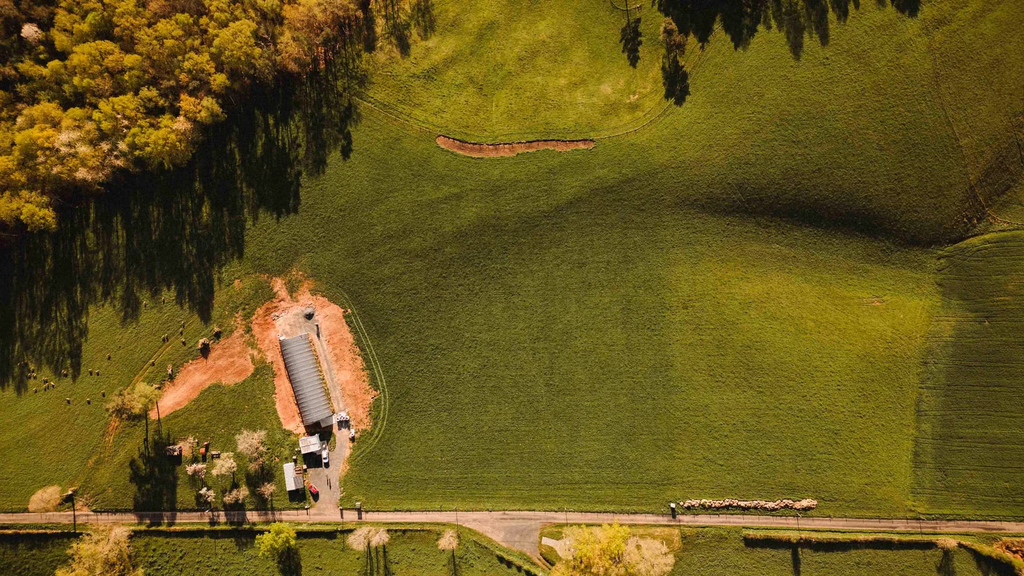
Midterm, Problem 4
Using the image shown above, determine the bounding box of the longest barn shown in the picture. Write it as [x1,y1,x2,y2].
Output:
[279,333,336,426]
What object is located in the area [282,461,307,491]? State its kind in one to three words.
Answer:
shed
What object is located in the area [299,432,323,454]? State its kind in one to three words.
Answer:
shed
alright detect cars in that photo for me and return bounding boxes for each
[323,451,331,464]
[307,484,319,496]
